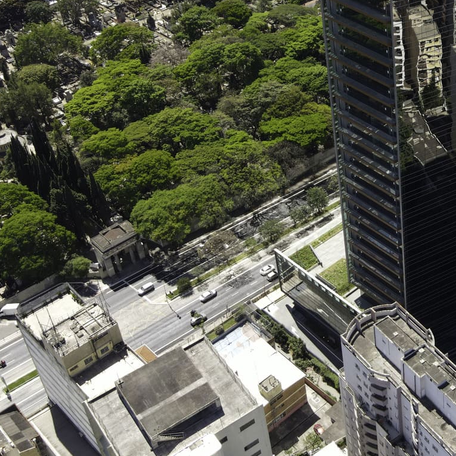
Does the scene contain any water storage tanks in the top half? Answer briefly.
No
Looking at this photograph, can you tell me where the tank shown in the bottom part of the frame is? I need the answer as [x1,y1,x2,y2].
[262,355,291,387]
